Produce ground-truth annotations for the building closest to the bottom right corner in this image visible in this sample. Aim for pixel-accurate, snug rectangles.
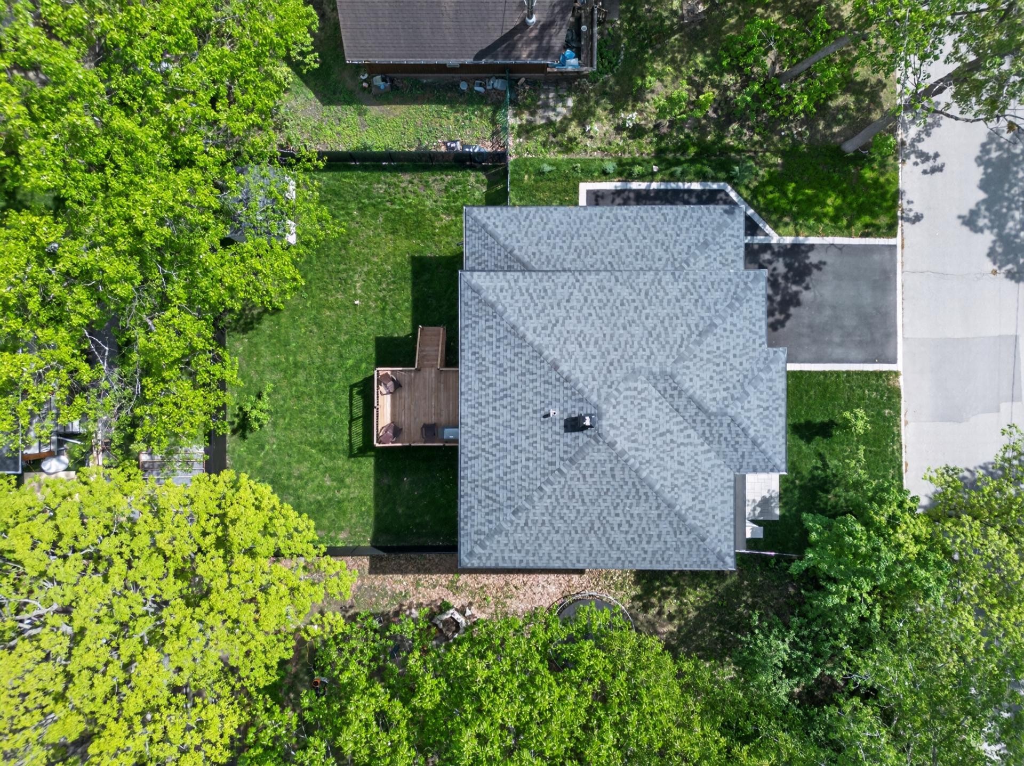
[456,203,791,573]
